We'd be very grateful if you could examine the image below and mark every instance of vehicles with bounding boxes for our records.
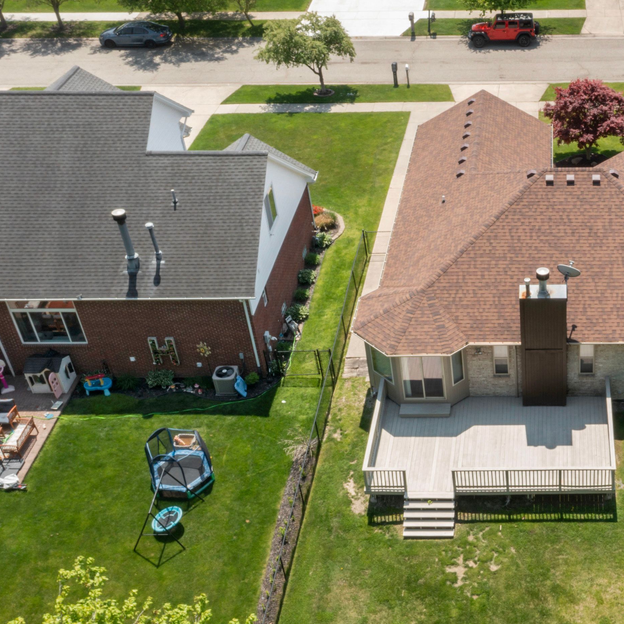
[467,11,540,47]
[102,15,177,46]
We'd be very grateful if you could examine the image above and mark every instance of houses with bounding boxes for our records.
[0,64,317,381]
[347,87,624,414]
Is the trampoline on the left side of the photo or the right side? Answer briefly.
left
